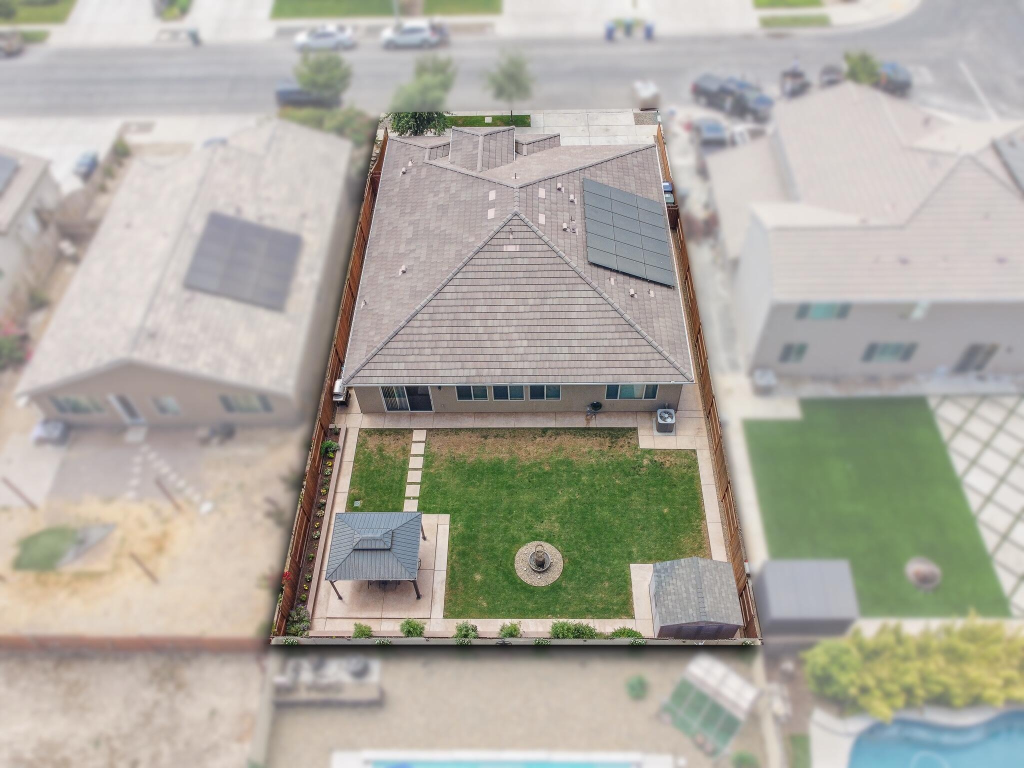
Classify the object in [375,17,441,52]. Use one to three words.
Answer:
car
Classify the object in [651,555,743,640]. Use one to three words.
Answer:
shed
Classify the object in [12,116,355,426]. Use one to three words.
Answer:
house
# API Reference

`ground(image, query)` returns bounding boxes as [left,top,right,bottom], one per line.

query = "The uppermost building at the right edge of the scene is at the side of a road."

[704,83,1024,377]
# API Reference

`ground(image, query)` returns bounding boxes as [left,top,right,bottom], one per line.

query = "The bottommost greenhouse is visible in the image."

[662,653,763,757]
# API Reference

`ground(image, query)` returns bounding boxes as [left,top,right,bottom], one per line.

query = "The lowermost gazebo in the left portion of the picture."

[325,511,428,602]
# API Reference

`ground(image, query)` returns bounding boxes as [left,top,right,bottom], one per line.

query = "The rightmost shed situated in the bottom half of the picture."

[757,560,865,636]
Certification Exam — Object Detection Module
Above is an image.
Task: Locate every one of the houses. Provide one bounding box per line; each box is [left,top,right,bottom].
[12,116,355,426]
[0,135,67,312]
[704,83,1024,377]
[340,124,696,413]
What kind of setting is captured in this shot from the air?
residential area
